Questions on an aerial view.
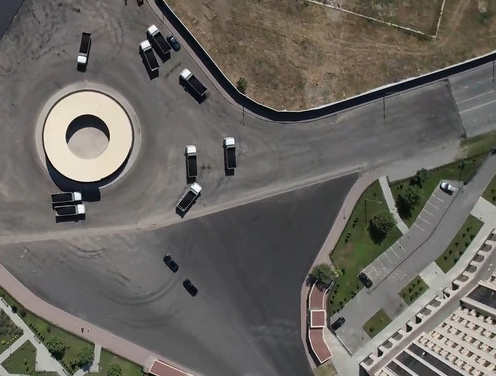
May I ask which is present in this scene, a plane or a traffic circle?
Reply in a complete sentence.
I can see a traffic circle in this picture.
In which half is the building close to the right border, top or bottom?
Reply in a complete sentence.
You can find the building close to the right border in the bottom half.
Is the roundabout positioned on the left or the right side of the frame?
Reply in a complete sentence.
The roundabout sits on the left side.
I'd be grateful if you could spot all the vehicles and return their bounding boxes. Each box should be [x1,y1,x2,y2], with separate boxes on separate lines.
[185,145,198,177]
[184,279,197,295]
[77,33,91,64]
[148,24,171,55]
[55,203,87,215]
[331,316,346,330]
[223,136,237,169]
[164,254,177,270]
[167,35,179,51]
[358,272,372,287]
[52,191,83,202]
[140,39,161,71]
[176,181,200,211]
[179,66,208,98]
[440,181,457,192]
